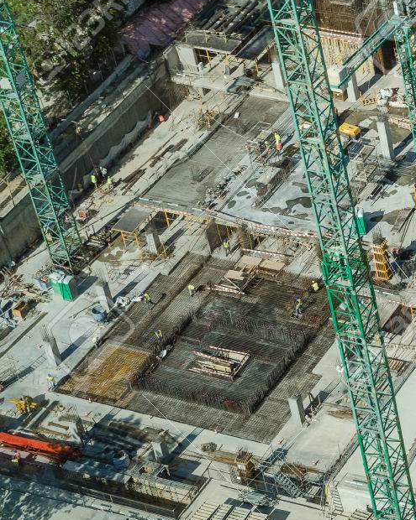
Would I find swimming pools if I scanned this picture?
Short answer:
No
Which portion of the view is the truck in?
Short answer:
bottom left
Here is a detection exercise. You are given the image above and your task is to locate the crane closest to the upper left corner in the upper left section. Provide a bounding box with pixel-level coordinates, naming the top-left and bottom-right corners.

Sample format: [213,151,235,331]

[0,0,98,269]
